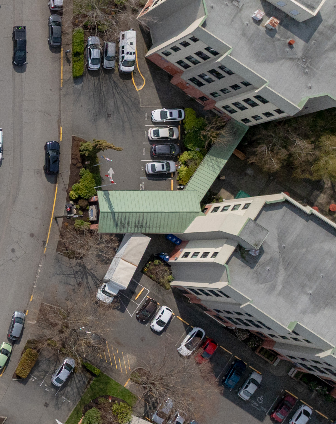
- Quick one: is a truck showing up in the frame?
Yes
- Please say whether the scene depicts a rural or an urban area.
urban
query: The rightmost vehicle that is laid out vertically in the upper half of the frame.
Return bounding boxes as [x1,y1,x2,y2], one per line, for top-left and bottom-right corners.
[115,27,139,74]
